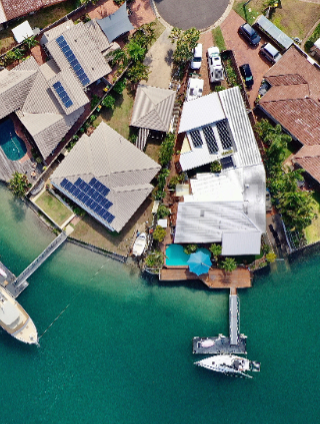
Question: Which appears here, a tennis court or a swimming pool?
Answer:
swimming pool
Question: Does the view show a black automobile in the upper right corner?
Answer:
Yes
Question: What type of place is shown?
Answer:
residential area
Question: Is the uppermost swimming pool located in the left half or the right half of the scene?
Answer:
left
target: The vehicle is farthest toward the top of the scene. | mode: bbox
[237,25,261,48]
